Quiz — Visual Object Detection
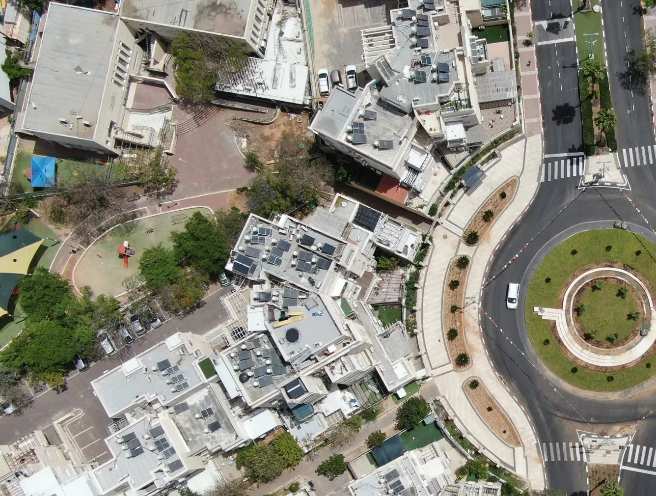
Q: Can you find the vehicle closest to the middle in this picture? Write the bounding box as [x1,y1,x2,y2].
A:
[216,267,232,291]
